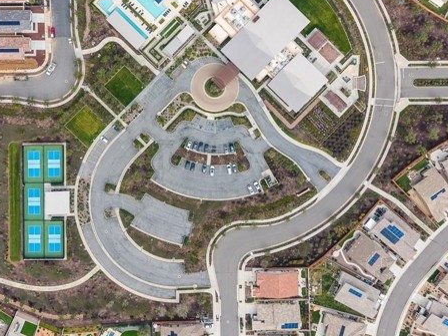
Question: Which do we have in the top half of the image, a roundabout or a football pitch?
roundabout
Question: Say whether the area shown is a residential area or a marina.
residential area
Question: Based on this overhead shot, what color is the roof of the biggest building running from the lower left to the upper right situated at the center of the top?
white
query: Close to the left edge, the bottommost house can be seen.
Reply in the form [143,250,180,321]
[0,37,32,59]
